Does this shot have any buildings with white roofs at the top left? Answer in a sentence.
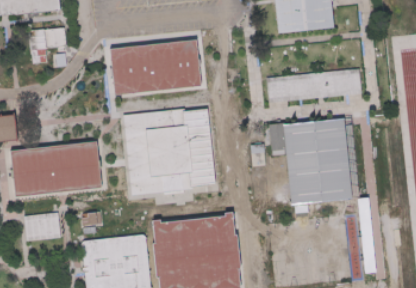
Yes, the scene does show a building with a white roof at the top left.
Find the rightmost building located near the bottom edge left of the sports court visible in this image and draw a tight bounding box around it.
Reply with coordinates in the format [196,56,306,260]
[153,212,240,288]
